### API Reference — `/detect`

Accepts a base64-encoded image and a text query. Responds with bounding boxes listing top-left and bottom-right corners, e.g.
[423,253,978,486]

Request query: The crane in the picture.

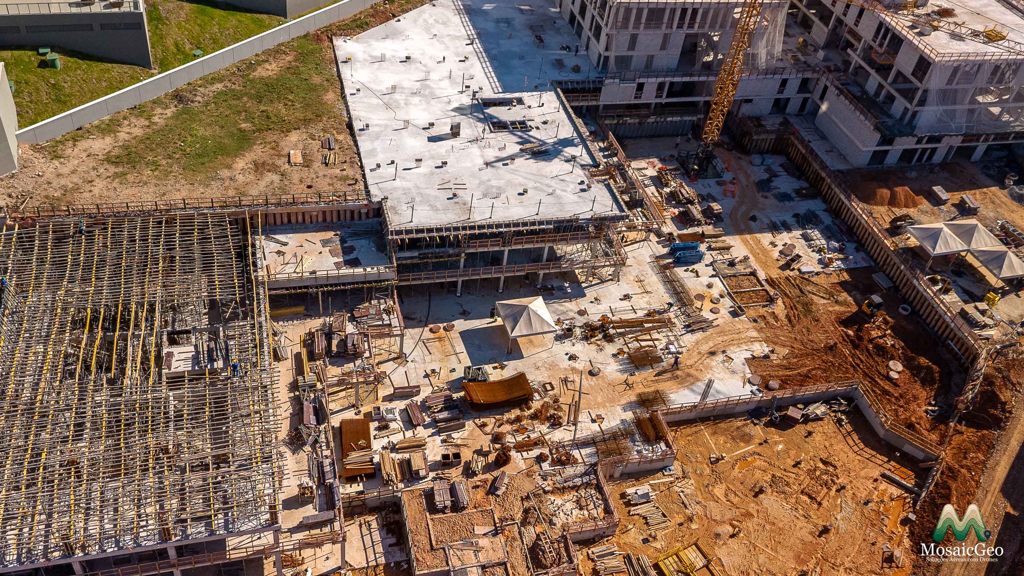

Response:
[675,0,772,188]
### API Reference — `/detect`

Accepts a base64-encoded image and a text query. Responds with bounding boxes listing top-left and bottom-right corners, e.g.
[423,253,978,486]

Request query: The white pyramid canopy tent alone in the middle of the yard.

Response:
[493,295,560,358]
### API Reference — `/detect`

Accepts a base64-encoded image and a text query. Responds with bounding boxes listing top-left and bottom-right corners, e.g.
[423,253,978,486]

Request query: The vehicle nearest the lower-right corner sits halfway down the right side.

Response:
[856,290,902,326]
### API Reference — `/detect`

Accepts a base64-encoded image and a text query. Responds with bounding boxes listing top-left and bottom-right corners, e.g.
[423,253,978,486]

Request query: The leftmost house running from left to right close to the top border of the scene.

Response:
[0,0,158,69]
